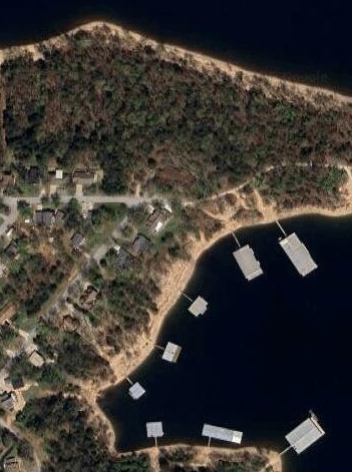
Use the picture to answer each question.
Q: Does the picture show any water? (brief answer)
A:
Yes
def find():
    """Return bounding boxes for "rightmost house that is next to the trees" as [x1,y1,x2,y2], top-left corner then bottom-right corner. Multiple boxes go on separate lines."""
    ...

[146,202,172,232]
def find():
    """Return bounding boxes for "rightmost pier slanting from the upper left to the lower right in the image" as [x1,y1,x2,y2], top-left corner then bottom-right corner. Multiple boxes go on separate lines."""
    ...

[276,219,317,277]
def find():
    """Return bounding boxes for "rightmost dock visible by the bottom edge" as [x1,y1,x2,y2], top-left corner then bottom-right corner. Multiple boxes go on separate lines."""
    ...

[280,410,324,454]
